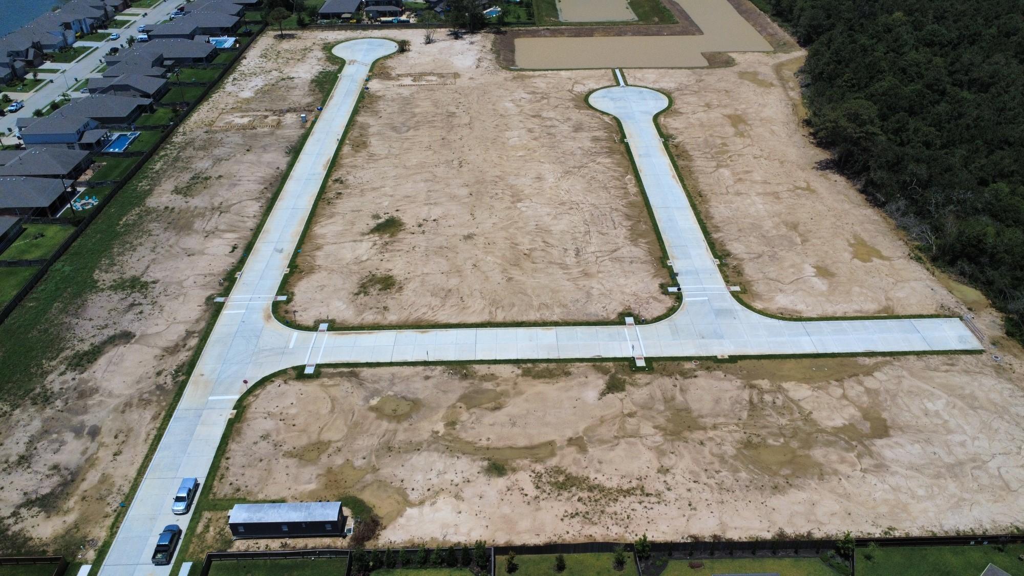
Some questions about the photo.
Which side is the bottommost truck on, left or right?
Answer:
left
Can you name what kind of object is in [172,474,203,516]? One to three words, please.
truck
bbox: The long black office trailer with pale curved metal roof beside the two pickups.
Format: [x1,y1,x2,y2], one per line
[227,497,347,537]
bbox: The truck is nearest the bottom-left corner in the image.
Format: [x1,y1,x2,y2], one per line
[148,521,183,567]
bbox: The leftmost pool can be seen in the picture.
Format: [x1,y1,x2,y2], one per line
[104,131,140,149]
